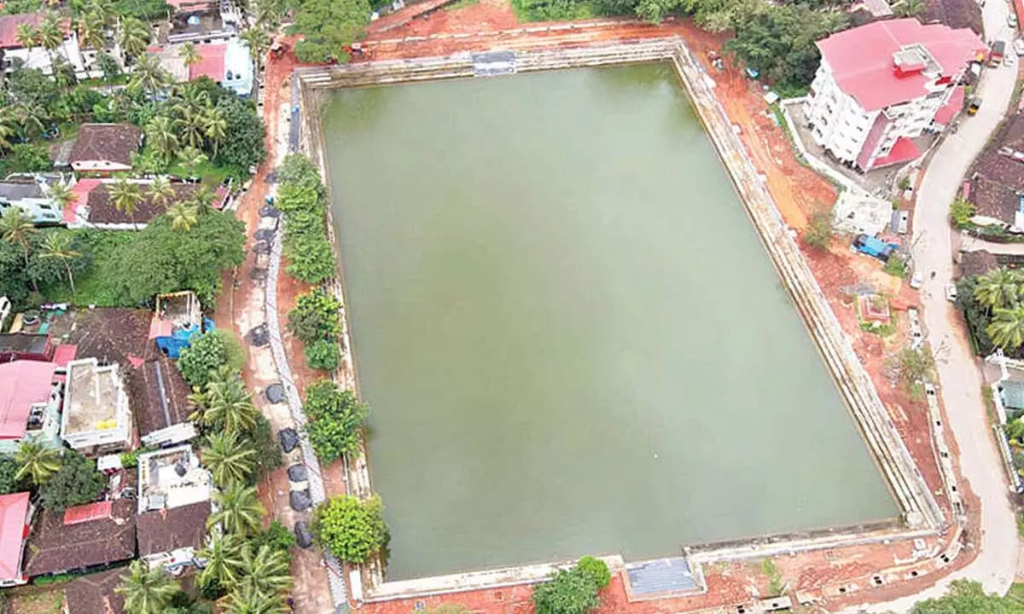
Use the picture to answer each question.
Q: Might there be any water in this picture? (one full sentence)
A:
Yes, water shows up in the scene.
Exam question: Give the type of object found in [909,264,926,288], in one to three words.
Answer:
car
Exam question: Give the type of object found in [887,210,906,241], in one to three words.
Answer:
building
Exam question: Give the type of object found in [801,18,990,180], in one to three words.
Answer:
building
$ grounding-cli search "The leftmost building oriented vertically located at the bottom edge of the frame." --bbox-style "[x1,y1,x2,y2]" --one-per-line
[0,493,44,591]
